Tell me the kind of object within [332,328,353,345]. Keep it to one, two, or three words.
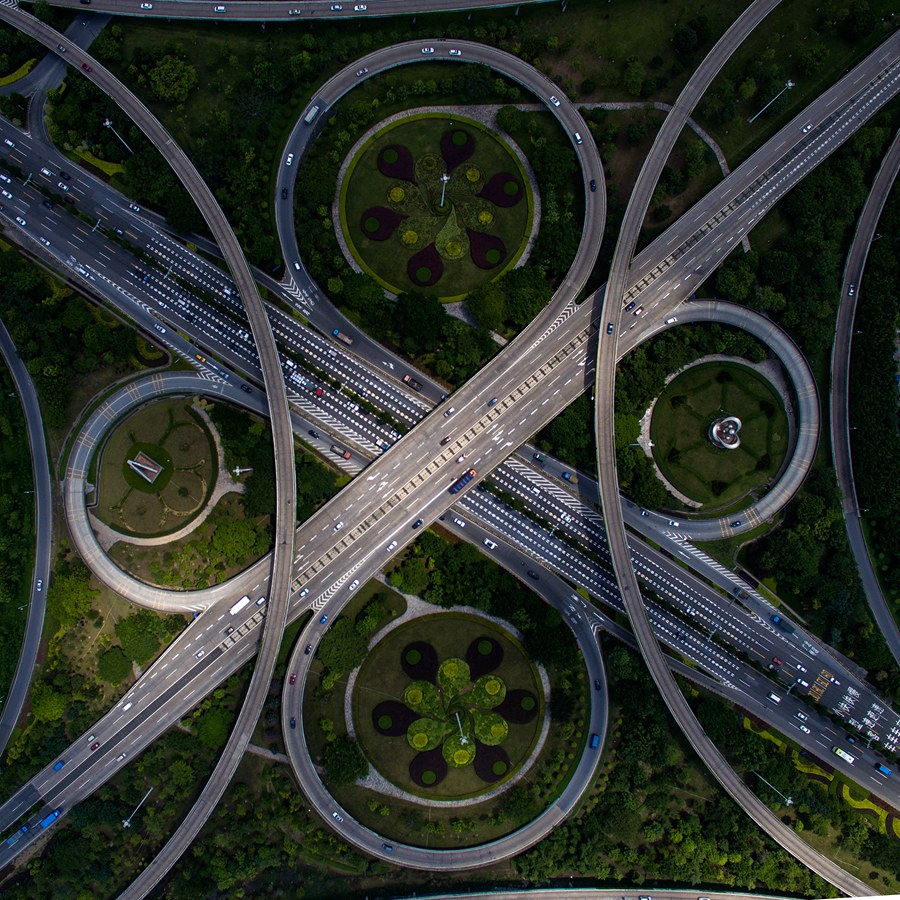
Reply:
vehicle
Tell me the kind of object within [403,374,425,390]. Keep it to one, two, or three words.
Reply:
vehicle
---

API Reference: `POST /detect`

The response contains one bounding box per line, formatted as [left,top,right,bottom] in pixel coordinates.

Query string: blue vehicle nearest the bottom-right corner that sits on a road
[875,763,895,778]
